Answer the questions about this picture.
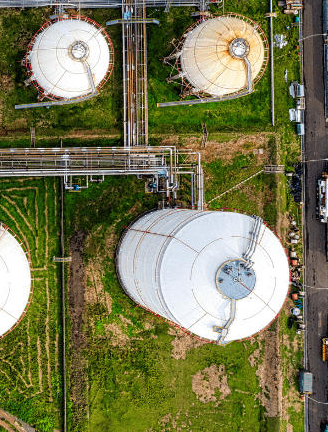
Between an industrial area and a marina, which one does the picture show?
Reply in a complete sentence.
This looks like an industrial area.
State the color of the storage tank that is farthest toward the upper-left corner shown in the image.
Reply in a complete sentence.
From above, the storage tank that is farthest toward the upper-left corner appears white.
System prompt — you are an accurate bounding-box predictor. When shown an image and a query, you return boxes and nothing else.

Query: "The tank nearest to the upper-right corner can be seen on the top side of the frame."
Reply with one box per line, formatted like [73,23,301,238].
[159,5,273,109]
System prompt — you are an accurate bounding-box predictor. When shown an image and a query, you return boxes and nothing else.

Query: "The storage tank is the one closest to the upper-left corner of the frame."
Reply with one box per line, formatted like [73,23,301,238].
[16,8,117,111]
